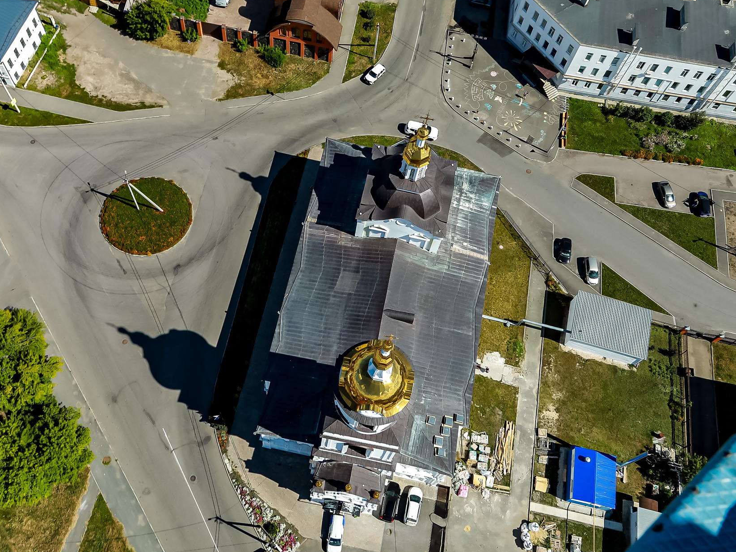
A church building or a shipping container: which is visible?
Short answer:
church building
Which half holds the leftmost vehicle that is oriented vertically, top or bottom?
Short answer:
bottom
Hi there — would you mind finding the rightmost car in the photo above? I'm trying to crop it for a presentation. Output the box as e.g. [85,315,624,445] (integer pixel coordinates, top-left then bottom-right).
[692,192,716,217]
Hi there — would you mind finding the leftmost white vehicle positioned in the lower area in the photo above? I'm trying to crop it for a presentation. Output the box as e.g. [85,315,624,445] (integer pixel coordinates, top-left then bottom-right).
[325,512,345,552]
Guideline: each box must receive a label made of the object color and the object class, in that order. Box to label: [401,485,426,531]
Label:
white car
